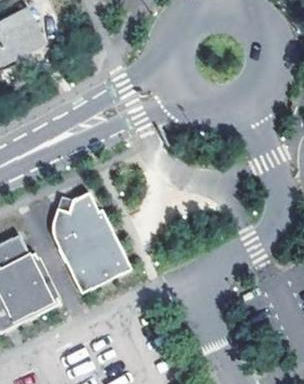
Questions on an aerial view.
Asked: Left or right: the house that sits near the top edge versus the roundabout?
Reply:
to the left of it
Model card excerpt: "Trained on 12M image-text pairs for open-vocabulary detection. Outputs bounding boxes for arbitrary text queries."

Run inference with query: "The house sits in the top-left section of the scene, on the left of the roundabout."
[0,5,47,67]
